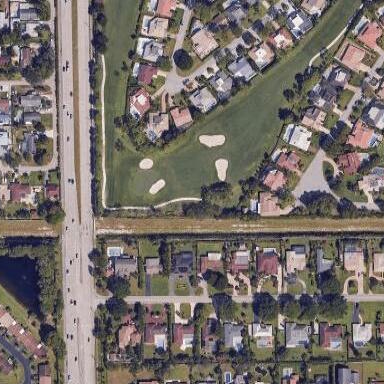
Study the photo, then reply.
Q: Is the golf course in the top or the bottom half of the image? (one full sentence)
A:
The golf course sits in the top half of the picture.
